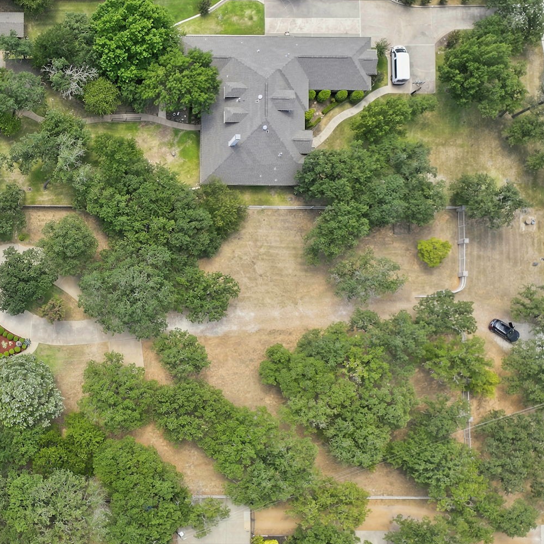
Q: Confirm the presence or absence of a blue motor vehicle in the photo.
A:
No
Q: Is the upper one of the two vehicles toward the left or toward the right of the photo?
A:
right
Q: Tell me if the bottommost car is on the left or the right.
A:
right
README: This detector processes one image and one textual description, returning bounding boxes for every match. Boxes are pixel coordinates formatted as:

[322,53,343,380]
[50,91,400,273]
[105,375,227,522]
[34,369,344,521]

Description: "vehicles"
[485,318,522,341]
[390,44,412,87]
